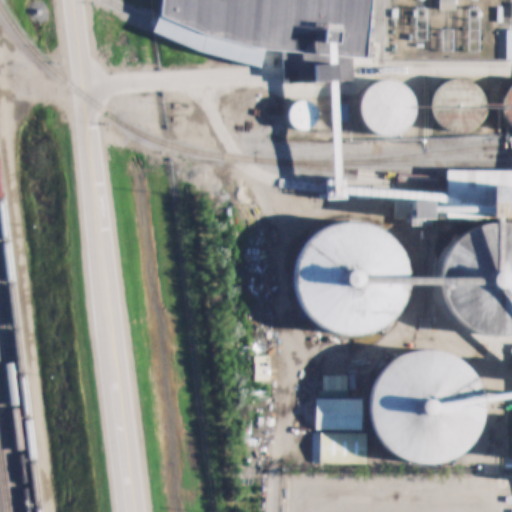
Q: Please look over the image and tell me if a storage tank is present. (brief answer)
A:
Yes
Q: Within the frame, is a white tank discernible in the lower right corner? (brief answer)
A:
Yes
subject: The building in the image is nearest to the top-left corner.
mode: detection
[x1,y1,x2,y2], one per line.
[28,1,50,28]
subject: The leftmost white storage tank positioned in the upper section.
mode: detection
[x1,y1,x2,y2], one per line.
[284,98,320,132]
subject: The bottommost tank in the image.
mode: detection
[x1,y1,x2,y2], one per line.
[366,348,488,466]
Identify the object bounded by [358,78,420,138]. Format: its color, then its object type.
white storage tank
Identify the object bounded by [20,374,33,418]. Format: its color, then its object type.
white rail car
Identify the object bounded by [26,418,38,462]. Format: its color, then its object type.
white rail car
